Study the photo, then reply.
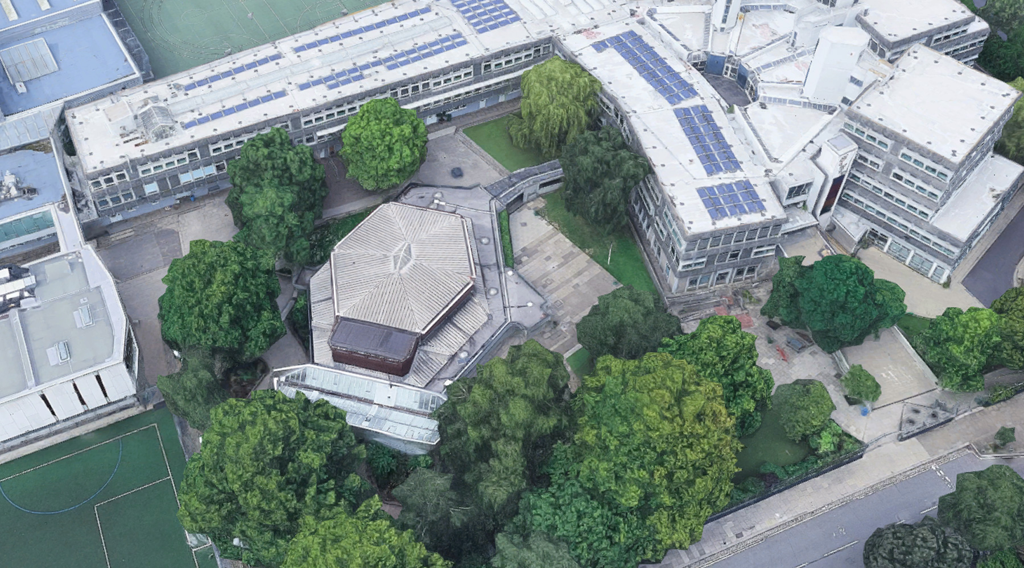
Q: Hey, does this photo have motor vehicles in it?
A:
No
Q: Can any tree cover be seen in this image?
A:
Yes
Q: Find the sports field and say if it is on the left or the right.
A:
left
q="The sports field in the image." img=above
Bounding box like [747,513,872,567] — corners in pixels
[0,405,222,568]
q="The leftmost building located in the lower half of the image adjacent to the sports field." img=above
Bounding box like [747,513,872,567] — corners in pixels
[0,243,141,446]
